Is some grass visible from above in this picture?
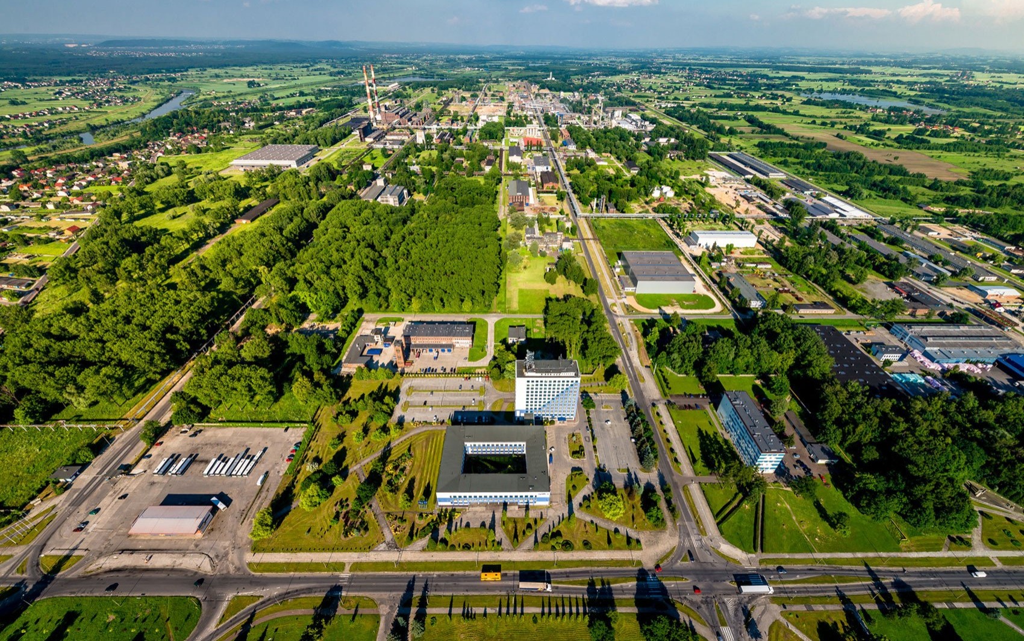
Yes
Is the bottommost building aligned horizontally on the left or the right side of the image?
left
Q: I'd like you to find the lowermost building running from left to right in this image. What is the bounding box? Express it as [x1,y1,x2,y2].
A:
[126,505,220,538]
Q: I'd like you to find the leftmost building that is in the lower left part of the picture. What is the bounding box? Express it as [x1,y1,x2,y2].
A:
[49,465,85,481]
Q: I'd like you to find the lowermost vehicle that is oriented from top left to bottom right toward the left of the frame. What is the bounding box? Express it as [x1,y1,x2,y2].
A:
[211,496,226,512]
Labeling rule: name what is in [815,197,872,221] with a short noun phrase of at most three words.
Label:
shed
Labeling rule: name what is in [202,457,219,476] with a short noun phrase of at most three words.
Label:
vehicle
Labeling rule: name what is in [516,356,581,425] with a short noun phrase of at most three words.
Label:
building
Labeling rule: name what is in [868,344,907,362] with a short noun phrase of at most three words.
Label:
building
